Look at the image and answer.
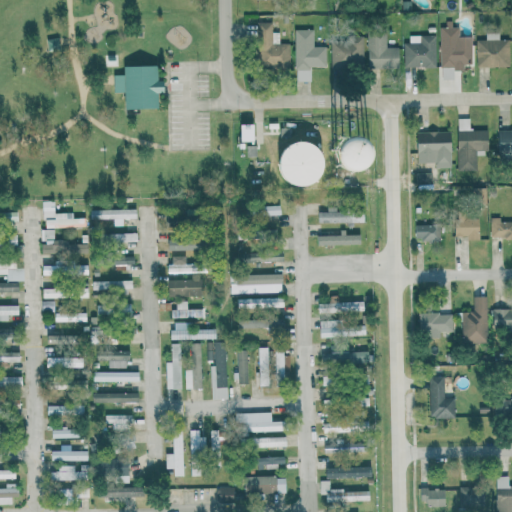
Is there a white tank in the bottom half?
No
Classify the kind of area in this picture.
residential area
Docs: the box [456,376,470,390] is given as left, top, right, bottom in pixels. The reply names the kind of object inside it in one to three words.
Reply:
swimming pool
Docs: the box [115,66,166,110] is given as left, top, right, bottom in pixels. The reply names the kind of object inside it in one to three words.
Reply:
building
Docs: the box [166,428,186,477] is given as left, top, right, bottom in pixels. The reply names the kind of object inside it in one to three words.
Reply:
house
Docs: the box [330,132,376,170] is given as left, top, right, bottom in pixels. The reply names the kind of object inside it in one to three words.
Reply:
water tower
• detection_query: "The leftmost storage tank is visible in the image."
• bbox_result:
[278,141,326,186]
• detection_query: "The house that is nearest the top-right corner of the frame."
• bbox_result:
[478,33,511,67]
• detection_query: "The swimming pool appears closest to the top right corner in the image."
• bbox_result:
[456,12,474,36]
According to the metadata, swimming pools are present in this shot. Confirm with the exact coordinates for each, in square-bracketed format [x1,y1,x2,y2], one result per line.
[456,12,474,36]
[414,0,432,10]
[456,376,470,390]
